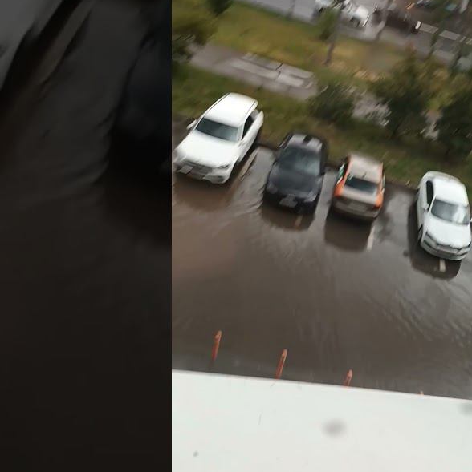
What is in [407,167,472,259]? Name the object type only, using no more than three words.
car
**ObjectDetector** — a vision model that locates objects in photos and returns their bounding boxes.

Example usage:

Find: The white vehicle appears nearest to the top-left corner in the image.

[174,90,259,180]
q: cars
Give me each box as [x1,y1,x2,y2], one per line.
[371,2,427,38]
[264,127,335,212]
[174,90,259,180]
[329,148,393,224]
[407,167,472,259]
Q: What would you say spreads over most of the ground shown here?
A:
paved ground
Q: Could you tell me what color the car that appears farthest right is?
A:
white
